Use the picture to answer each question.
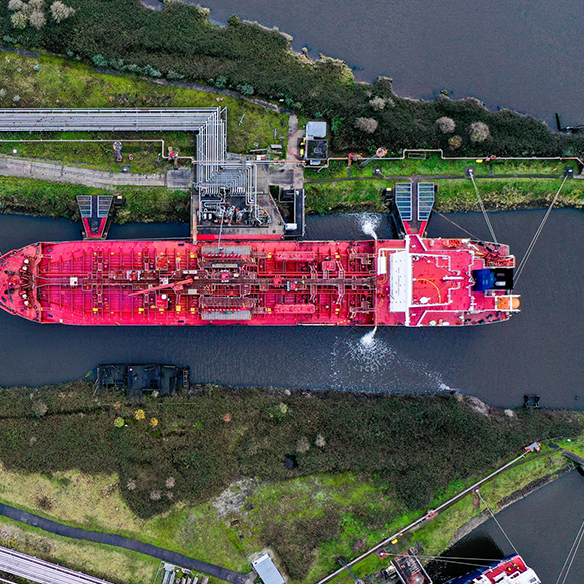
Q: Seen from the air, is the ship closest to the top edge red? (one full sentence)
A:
Yes, red is the color of the ship closest to the top edge.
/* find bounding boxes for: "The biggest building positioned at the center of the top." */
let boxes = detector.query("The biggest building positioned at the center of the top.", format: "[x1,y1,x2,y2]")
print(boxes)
[301,122,328,167]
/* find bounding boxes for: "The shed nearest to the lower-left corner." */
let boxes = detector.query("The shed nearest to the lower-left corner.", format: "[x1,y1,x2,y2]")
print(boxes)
[251,550,285,584]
